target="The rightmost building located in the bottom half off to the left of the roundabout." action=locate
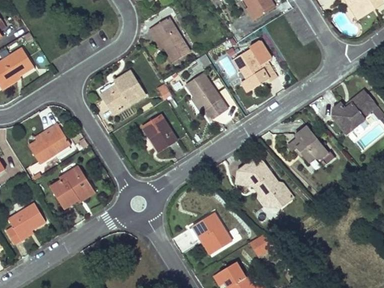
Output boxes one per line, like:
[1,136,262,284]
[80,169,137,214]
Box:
[50,166,96,210]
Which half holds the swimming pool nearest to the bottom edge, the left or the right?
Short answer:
right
